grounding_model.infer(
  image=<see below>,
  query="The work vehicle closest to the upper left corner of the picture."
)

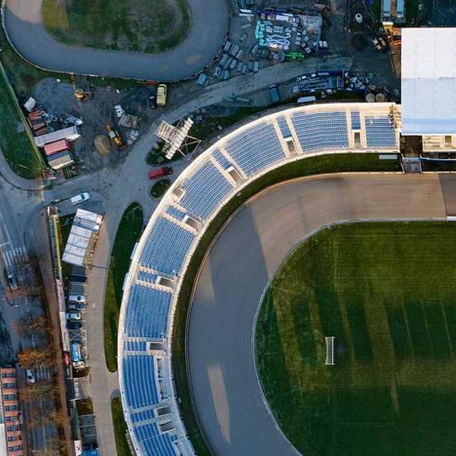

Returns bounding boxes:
[70,74,86,100]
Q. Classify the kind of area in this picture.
sports ground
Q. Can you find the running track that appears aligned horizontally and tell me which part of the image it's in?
top left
